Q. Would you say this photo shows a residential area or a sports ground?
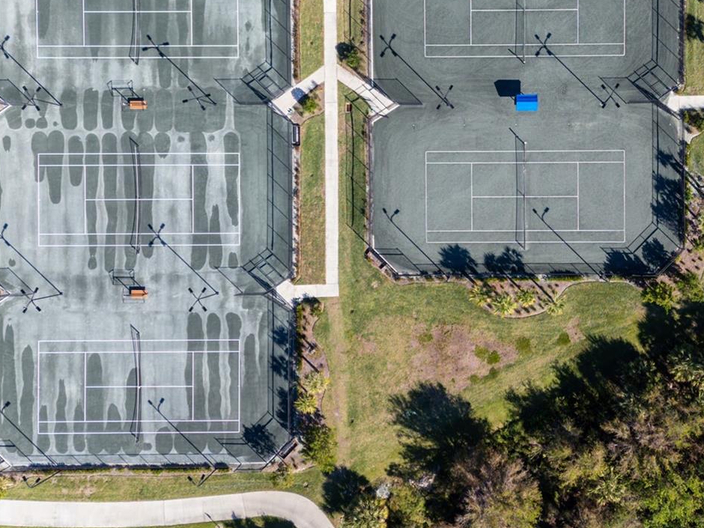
sports ground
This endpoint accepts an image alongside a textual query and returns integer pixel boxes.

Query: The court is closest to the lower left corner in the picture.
[0,294,294,465]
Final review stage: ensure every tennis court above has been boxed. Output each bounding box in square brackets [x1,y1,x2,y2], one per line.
[0,0,292,105]
[372,105,684,276]
[371,0,682,105]
[0,294,294,465]
[0,105,294,294]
